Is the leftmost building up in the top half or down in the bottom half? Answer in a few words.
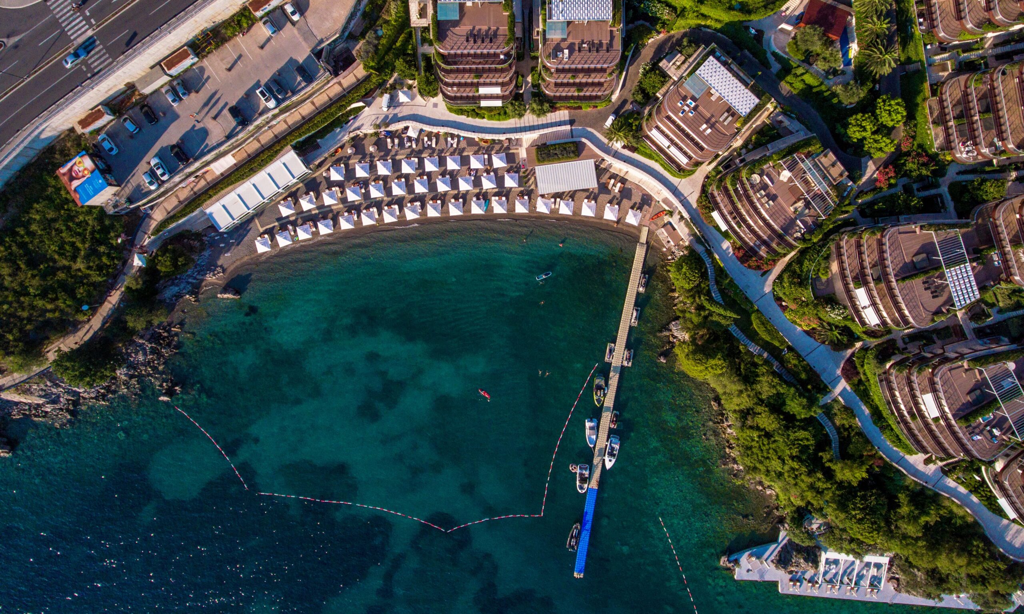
top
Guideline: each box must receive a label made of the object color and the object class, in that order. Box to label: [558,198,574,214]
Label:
white umbrella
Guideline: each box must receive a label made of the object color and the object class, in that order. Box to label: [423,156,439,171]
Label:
white umbrella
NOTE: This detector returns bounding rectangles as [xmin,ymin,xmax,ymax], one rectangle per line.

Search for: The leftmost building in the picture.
[77,107,116,132]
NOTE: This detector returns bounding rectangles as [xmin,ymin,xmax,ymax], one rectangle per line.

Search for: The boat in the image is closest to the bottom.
[568,524,580,555]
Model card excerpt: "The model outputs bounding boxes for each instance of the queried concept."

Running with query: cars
[160,84,179,107]
[97,132,117,156]
[62,47,86,67]
[170,77,189,100]
[118,113,138,135]
[266,76,286,100]
[226,102,246,126]
[255,84,275,109]
[168,142,188,166]
[149,156,169,180]
[292,61,312,86]
[137,102,157,126]
[259,15,278,38]
[282,0,301,22]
